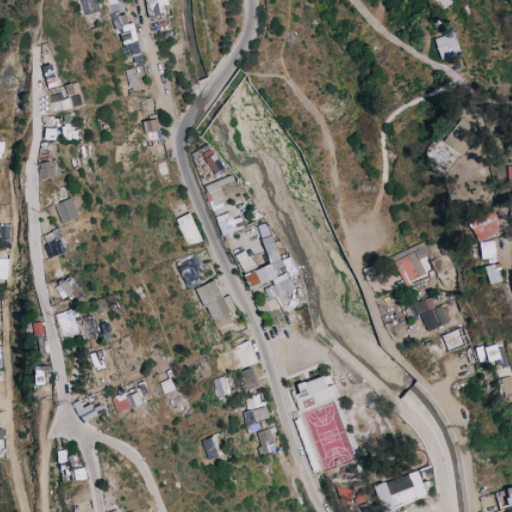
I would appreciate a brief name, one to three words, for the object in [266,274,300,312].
house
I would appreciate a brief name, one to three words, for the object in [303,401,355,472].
sports court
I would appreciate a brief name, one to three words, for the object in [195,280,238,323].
building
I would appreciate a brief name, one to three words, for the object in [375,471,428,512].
building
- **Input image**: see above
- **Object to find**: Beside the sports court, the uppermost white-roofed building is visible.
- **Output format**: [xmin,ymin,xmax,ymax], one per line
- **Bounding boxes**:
[298,376,339,405]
